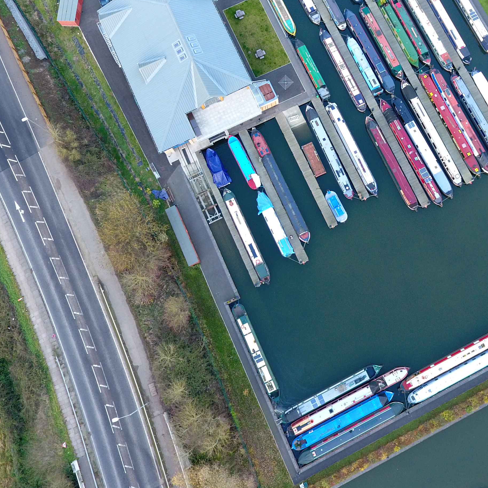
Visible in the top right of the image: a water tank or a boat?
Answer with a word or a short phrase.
boat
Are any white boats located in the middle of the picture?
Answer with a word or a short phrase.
Yes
